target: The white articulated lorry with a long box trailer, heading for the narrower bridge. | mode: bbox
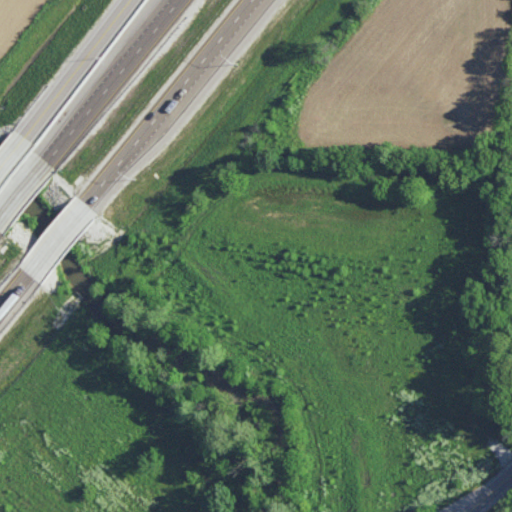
[0,286,26,321]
